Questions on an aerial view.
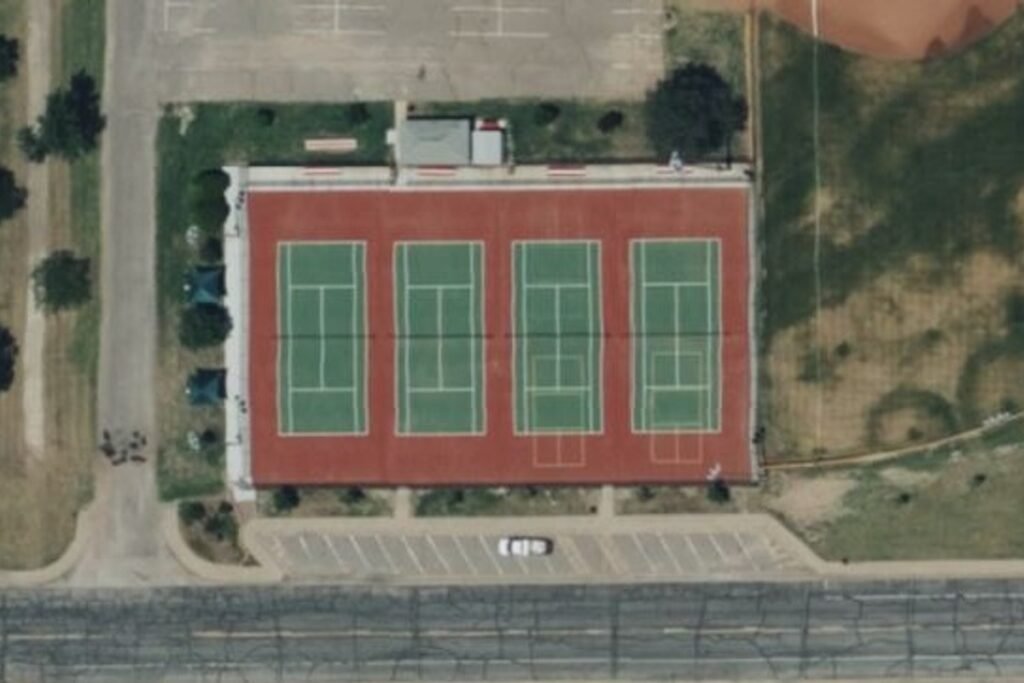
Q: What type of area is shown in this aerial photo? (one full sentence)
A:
The picture captures a sports ground.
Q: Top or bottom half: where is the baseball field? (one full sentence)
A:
You can find the baseball field in the top half.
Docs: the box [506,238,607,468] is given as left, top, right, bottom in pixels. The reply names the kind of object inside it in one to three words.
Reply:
tennis court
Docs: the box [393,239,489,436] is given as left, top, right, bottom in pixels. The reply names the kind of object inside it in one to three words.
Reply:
tennis court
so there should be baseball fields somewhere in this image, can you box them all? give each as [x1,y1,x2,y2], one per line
[757,0,1024,468]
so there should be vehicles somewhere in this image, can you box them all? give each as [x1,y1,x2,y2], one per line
[500,538,552,557]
